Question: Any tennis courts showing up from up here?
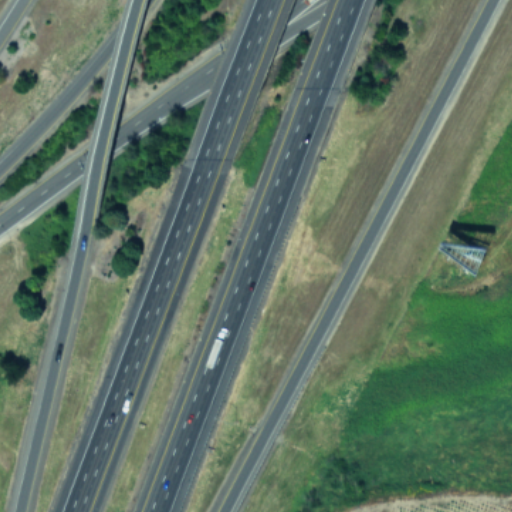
No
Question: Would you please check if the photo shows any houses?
No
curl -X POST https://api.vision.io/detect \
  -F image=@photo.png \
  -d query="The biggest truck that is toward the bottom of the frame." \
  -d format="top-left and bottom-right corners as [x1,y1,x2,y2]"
[208,326,230,368]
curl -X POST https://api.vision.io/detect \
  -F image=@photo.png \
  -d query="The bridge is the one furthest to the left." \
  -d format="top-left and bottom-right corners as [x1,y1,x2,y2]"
[69,0,148,250]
